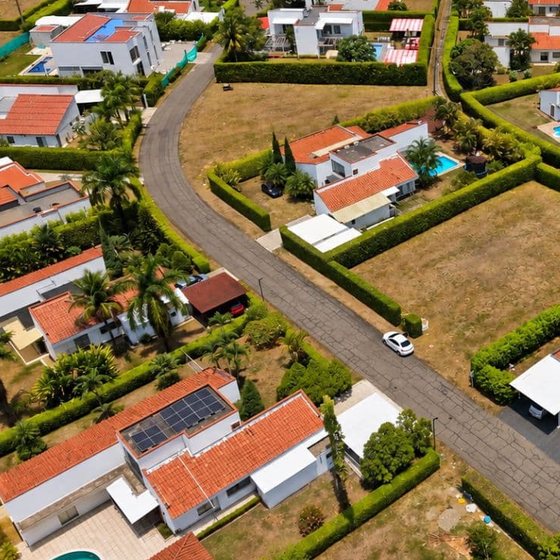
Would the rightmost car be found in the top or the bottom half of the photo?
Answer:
bottom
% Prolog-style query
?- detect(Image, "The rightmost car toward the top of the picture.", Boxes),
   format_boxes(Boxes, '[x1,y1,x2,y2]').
[260,178,283,199]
